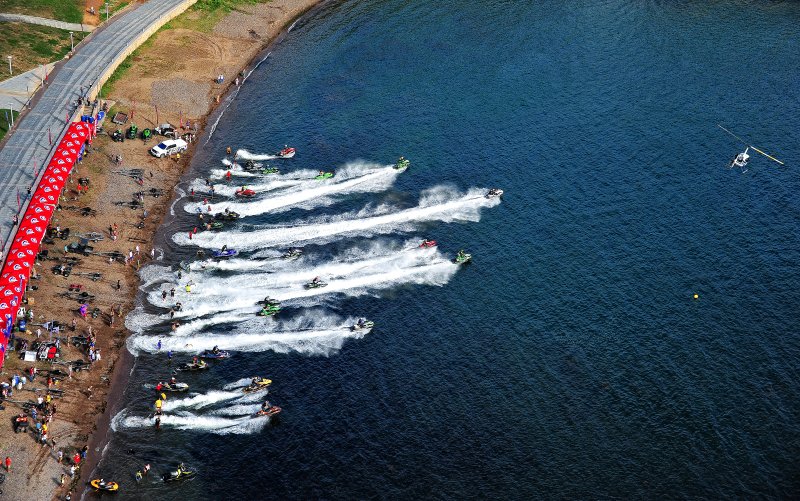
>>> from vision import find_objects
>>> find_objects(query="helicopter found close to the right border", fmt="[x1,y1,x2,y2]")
[712,130,785,173]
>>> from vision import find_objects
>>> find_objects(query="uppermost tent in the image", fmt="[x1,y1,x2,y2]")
[25,120,96,217]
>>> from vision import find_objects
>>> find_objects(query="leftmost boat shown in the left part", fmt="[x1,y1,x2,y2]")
[90,478,118,491]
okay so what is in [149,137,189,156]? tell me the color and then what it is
white vehicle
